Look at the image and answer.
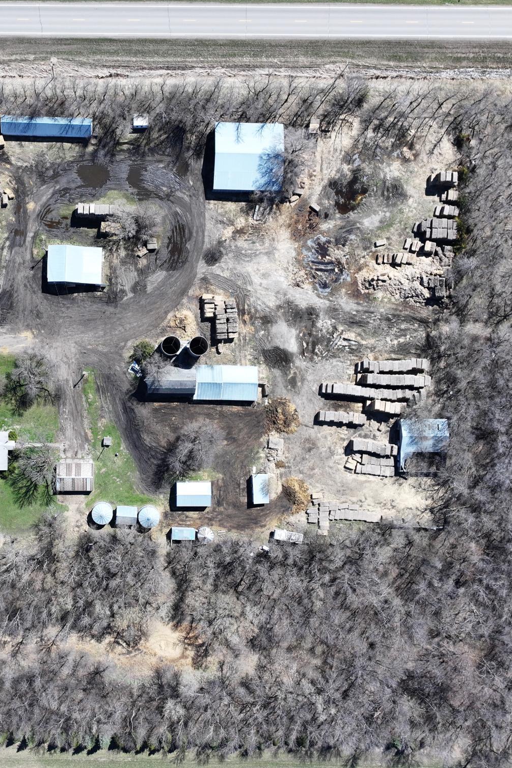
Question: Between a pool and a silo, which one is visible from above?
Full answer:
It is a silo that can be seen here.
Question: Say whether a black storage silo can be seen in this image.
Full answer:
Yes, a black storage silo is visible in the scene.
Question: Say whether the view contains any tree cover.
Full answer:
Yes, there's tree cover in this view.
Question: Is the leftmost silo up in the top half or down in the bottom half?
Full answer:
You can find the leftmost silo in the bottom half.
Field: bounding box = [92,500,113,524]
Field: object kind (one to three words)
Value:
silo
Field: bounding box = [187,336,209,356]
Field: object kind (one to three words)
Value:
silo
